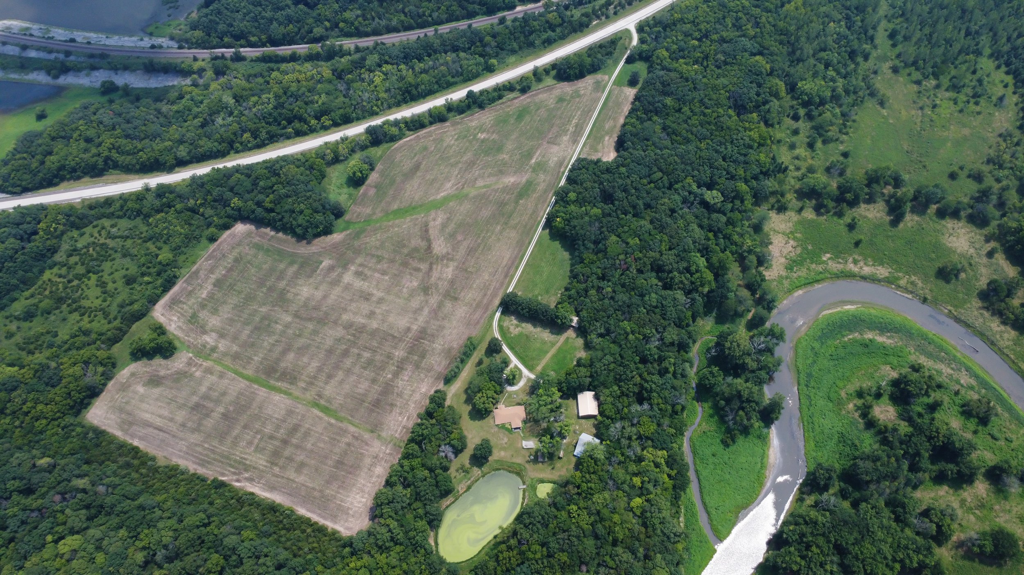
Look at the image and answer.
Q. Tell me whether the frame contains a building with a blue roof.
No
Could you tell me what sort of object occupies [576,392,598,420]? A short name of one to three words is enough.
barn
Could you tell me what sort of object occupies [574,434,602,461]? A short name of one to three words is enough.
shed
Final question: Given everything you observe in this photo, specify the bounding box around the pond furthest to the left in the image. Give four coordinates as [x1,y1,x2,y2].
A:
[436,469,524,562]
